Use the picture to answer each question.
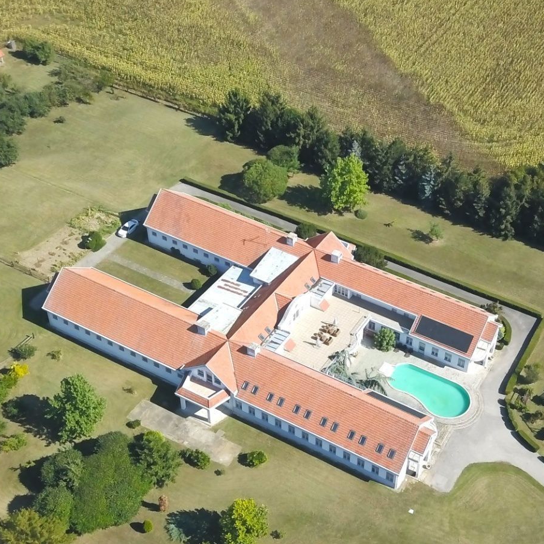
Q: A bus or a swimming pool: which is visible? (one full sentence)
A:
Looking from above, you can make out a swimming pool.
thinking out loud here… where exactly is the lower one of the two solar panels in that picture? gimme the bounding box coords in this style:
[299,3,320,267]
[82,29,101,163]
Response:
[367,393,427,419]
